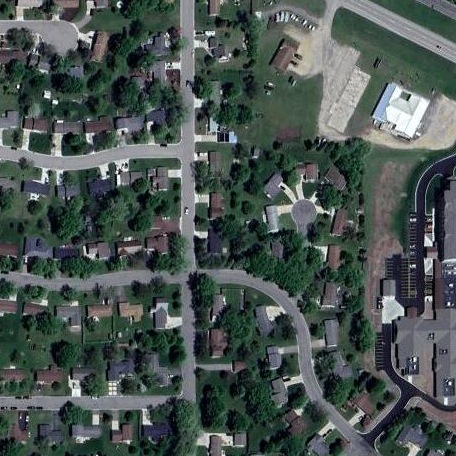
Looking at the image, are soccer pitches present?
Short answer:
No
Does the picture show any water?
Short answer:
No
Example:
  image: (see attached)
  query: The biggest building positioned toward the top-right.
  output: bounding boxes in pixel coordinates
[372,83,431,138]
